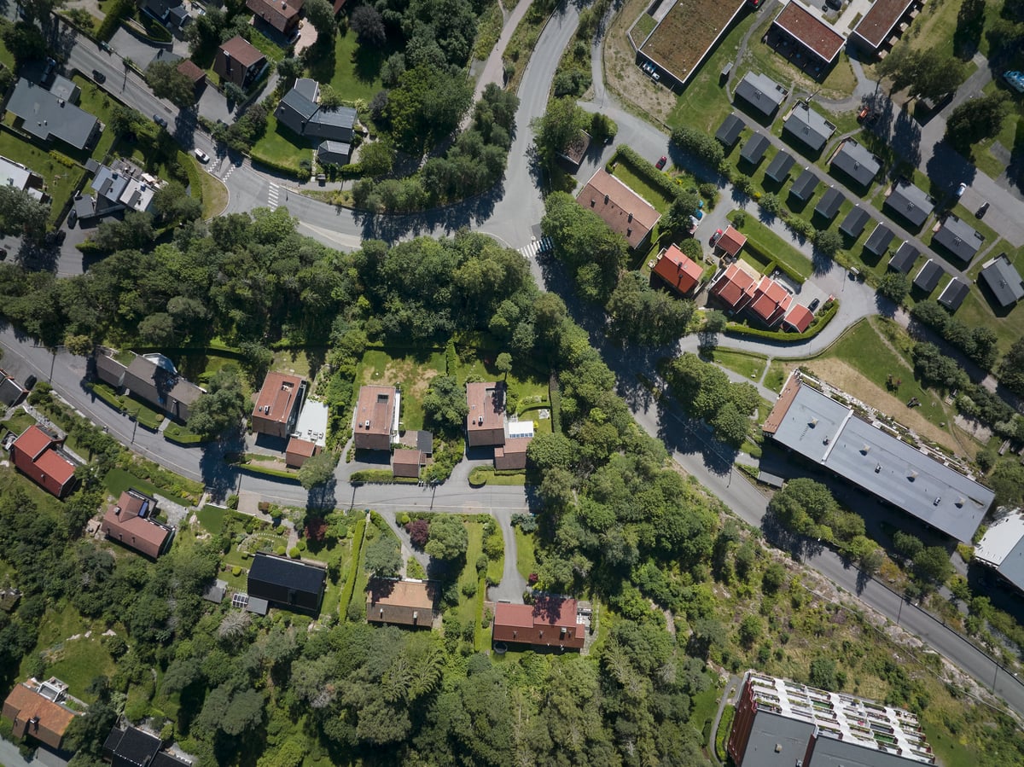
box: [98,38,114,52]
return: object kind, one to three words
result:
car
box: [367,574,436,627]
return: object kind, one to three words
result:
house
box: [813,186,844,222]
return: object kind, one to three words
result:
building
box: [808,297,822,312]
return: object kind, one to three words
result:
car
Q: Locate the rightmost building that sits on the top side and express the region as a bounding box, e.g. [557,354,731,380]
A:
[976,256,1024,306]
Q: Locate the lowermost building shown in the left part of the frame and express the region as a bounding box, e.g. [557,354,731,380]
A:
[104,719,195,767]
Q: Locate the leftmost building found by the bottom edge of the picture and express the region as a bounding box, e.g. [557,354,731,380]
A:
[1,673,81,751]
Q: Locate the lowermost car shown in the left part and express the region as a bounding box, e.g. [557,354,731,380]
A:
[22,374,36,390]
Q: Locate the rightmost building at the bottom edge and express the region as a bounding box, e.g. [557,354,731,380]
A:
[722,669,937,767]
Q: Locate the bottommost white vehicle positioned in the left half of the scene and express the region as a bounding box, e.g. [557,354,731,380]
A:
[193,148,209,161]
